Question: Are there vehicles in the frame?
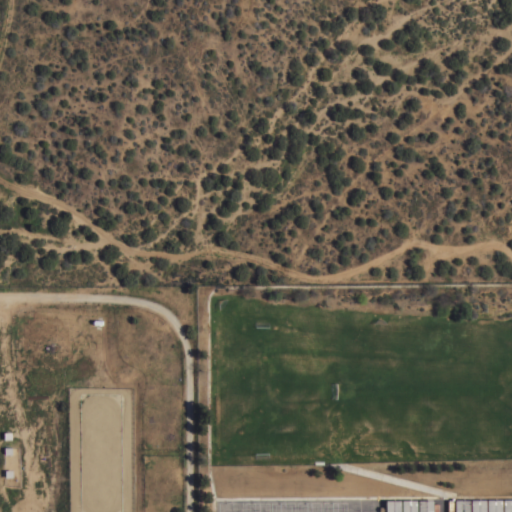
No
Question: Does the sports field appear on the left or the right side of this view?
right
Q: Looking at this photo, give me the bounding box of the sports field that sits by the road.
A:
[210,295,512,466]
